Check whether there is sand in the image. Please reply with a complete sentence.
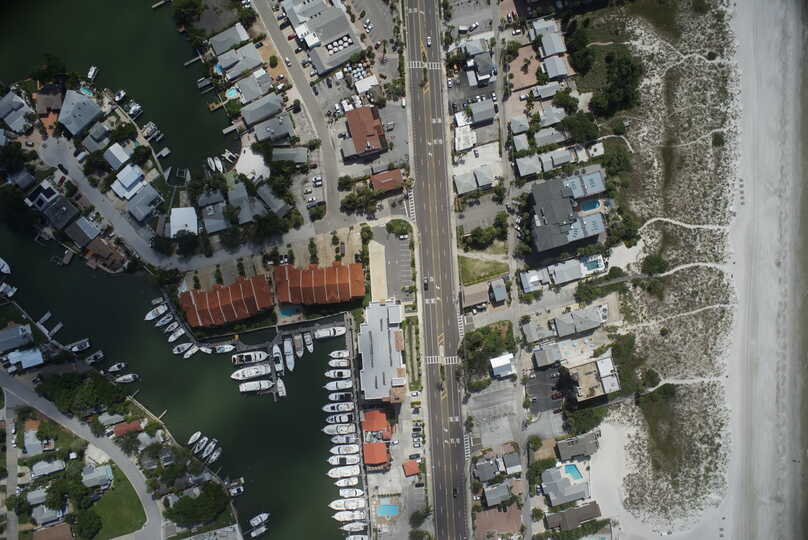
Yes, the picture does contain sand.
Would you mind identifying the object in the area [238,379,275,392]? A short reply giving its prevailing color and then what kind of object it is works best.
white boat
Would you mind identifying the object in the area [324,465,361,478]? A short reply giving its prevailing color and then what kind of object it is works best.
white boat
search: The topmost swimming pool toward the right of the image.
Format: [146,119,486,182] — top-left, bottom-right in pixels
[580,198,602,212]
